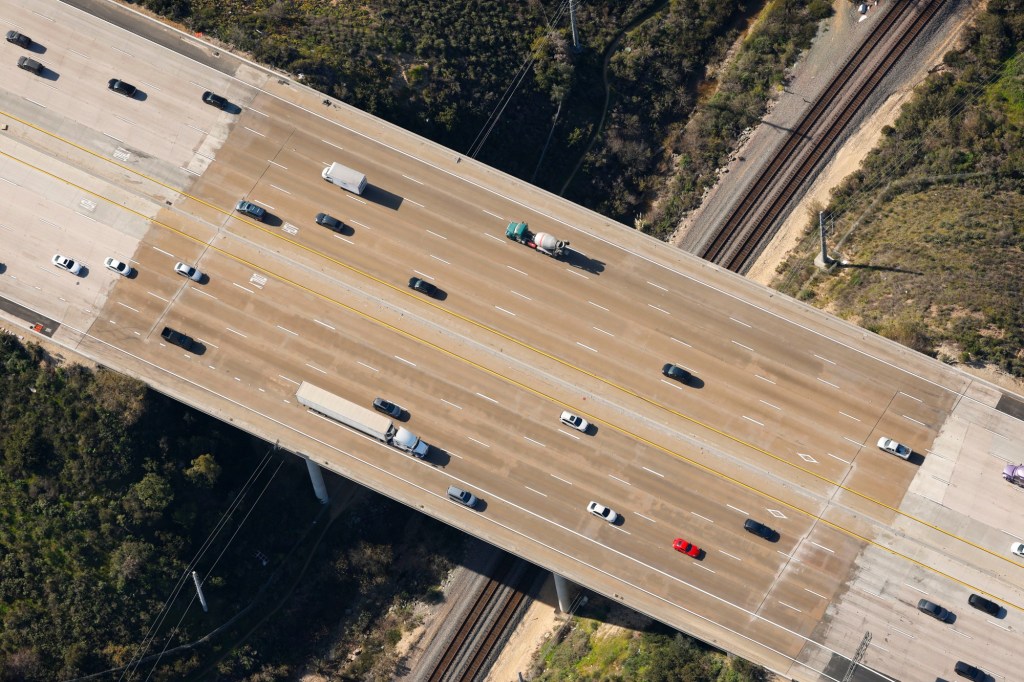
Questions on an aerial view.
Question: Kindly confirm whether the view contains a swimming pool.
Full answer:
No, the picture doesn't show any swimming pool.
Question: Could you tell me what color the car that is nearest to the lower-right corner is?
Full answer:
From above, the car that is nearest to the lower-right corner appears black.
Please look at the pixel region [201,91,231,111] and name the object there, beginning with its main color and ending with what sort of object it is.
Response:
black car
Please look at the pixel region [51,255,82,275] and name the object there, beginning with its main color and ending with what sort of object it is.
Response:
white car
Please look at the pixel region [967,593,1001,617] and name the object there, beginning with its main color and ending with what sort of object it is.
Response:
black car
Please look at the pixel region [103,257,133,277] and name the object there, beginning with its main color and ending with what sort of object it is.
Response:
white car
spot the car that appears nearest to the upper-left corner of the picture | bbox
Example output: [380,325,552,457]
[5,31,33,50]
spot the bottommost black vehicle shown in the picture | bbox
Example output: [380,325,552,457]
[952,661,986,682]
